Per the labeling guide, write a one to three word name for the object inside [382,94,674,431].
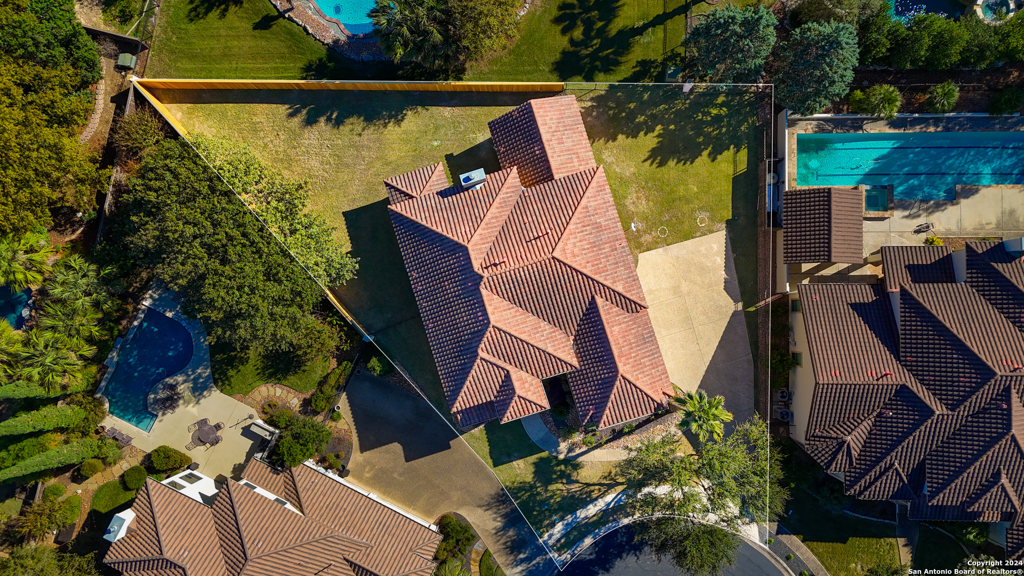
house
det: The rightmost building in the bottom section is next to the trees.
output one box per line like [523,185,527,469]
[789,237,1024,576]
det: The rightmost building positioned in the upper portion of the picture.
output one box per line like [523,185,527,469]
[773,187,876,264]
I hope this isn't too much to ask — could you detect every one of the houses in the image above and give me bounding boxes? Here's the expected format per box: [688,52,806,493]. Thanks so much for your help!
[789,237,1024,576]
[382,94,674,431]
[100,454,444,576]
